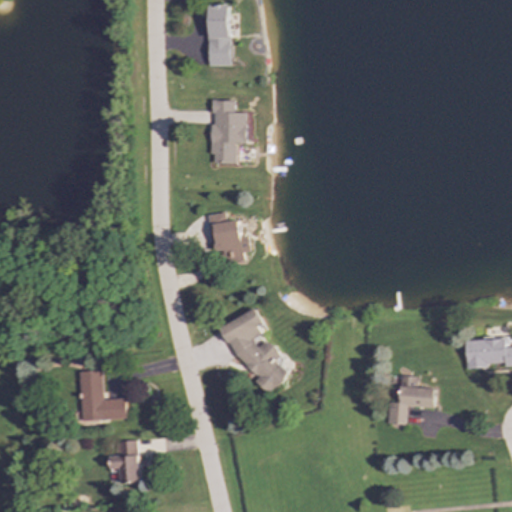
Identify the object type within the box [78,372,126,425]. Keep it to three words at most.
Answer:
house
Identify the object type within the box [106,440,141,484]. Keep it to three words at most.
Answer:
house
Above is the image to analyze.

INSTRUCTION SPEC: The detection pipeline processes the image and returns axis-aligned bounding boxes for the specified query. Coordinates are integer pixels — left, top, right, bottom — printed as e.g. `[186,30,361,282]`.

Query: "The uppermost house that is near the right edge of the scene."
[465,328,512,371]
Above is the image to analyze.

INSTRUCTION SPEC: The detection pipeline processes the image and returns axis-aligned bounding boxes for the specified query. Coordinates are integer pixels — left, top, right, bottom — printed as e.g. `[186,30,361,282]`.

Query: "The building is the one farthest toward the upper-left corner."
[208,4,242,67]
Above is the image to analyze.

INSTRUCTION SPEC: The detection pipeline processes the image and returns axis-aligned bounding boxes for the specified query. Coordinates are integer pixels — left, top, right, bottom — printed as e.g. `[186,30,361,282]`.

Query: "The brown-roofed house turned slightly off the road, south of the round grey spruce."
[208,212,250,262]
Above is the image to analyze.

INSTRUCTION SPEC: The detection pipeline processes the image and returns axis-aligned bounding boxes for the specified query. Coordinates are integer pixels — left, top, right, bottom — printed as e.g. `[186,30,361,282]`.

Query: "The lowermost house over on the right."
[390,374,438,426]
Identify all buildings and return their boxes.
[465,328,512,371]
[206,100,254,165]
[106,440,141,484]
[222,308,292,391]
[208,4,242,67]
[208,212,250,262]
[78,372,126,425]
[390,374,438,426]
